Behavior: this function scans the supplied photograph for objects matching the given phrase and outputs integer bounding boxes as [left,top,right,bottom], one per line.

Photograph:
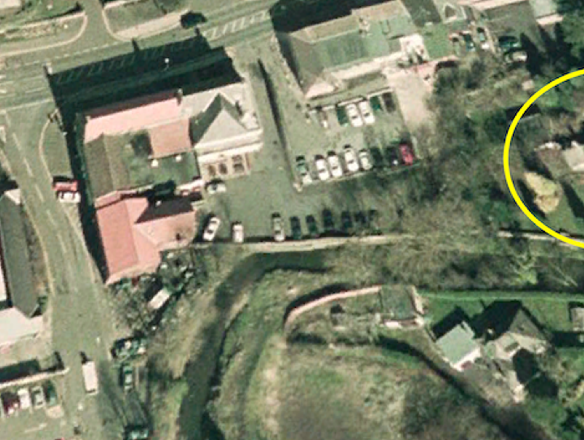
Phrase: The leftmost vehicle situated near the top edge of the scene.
[180,13,205,26]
